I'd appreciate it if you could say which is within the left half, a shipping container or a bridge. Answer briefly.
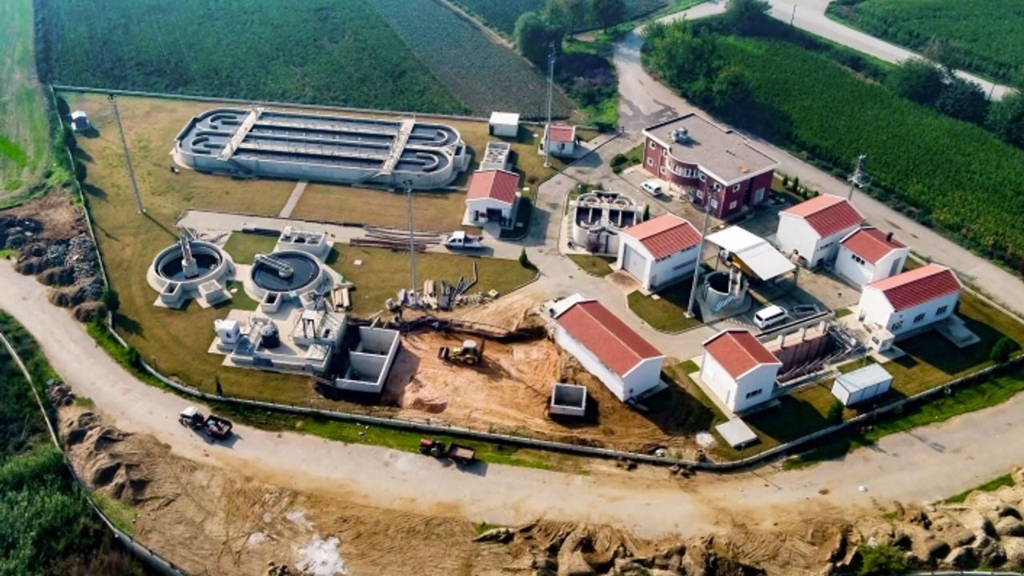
bridge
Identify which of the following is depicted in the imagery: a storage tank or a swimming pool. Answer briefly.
storage tank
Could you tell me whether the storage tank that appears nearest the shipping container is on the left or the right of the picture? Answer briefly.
right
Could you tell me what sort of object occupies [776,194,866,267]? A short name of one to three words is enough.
building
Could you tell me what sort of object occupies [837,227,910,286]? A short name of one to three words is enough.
building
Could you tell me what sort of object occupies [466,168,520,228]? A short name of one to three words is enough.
house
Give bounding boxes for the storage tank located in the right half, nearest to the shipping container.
[696,271,754,323]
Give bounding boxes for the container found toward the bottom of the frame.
[832,365,893,406]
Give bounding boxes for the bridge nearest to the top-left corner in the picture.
[215,102,264,161]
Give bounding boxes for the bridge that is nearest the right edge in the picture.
[379,113,414,174]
